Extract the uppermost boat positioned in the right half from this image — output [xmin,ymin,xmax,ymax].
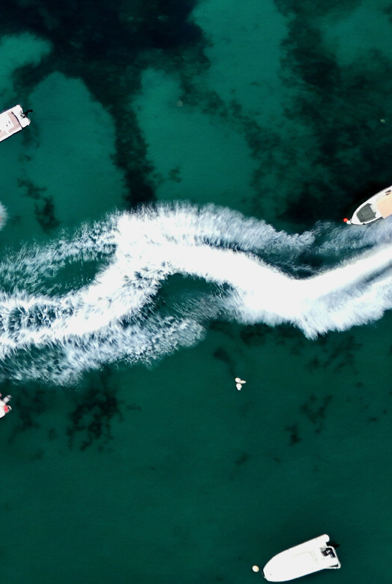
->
[350,186,392,225]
